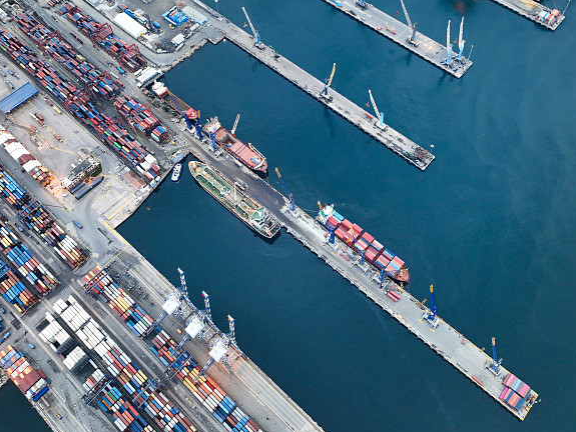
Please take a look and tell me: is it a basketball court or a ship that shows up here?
ship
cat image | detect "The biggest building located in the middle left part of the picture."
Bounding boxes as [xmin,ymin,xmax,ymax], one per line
[61,162,102,190]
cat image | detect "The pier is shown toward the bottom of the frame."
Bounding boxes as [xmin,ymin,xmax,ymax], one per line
[208,151,538,421]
